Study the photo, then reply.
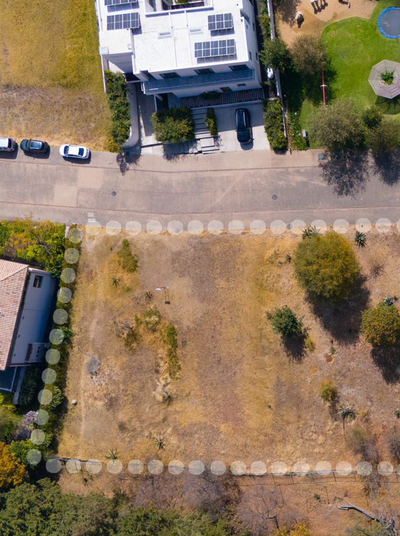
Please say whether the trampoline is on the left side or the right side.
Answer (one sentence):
The trampoline appears in the right half of the scene.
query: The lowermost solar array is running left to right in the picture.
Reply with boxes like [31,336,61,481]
[194,39,235,58]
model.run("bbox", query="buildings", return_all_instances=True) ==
[0,259,51,403]
[97,0,266,103]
